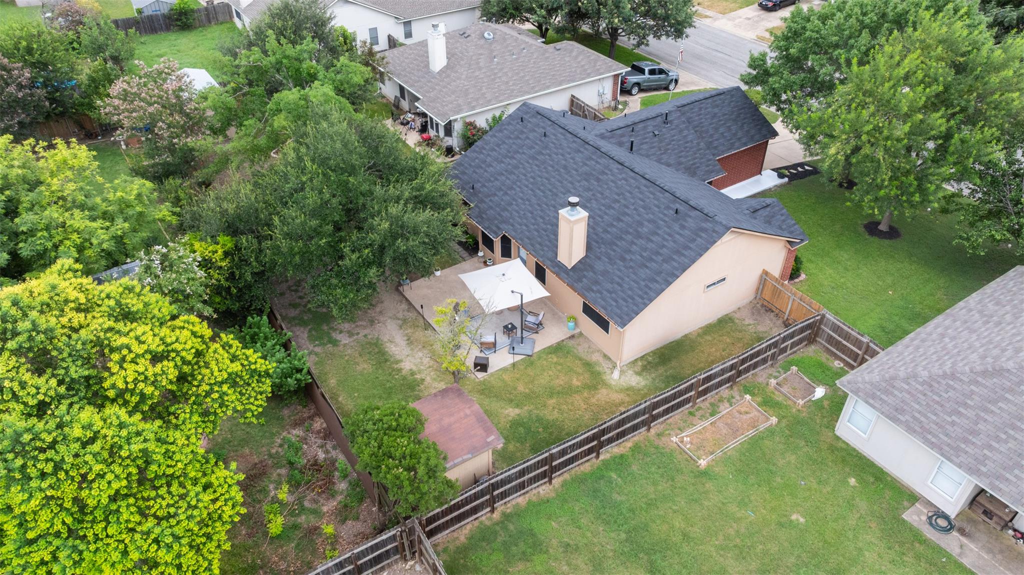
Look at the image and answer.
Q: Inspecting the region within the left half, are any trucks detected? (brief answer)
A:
No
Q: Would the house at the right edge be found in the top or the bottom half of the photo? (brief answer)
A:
bottom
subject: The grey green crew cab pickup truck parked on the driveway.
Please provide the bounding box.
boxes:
[621,63,683,94]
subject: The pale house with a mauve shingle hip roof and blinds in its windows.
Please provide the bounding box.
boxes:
[834,268,1024,530]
